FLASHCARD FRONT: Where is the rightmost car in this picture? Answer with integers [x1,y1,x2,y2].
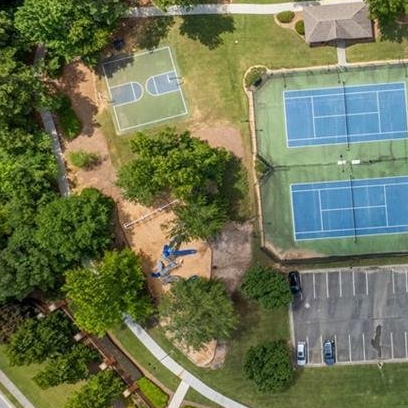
[323,339,335,364]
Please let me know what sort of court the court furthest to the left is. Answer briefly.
basketball court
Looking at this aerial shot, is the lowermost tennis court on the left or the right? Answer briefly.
right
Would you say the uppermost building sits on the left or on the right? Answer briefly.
right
